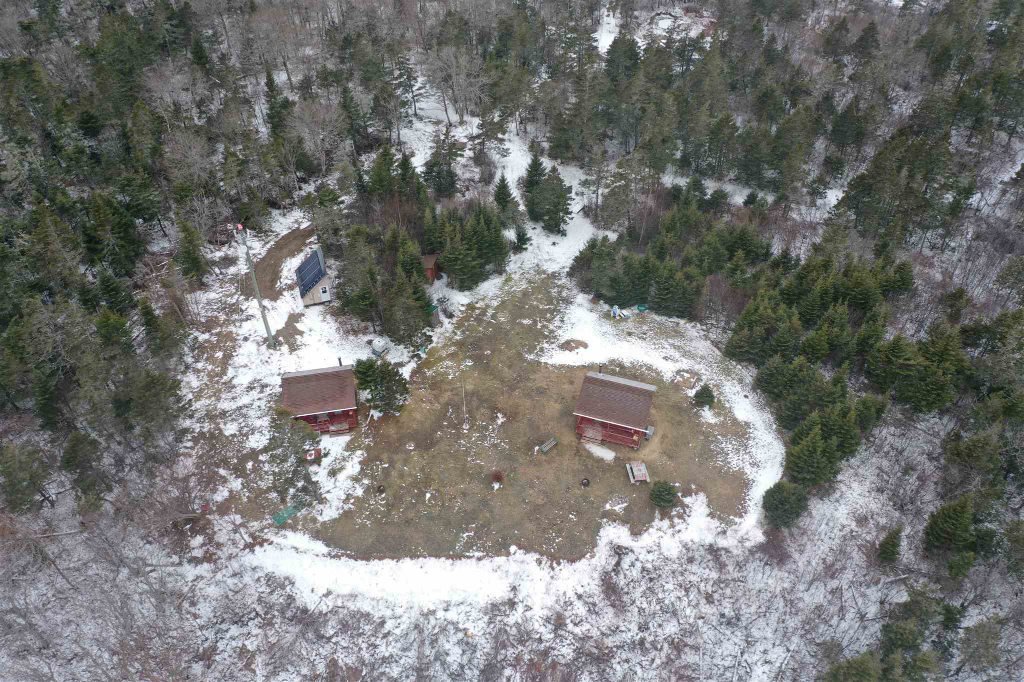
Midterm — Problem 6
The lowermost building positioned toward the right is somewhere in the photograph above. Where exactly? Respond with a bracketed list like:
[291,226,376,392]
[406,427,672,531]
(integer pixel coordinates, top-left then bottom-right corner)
[572,367,658,450]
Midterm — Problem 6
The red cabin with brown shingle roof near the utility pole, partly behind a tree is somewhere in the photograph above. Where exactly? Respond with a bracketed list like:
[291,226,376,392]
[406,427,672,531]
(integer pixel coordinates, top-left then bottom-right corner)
[279,359,359,440]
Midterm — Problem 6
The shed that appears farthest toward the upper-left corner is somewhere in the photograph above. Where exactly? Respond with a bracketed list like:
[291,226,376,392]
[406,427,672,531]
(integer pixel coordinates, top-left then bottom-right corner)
[296,244,333,305]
